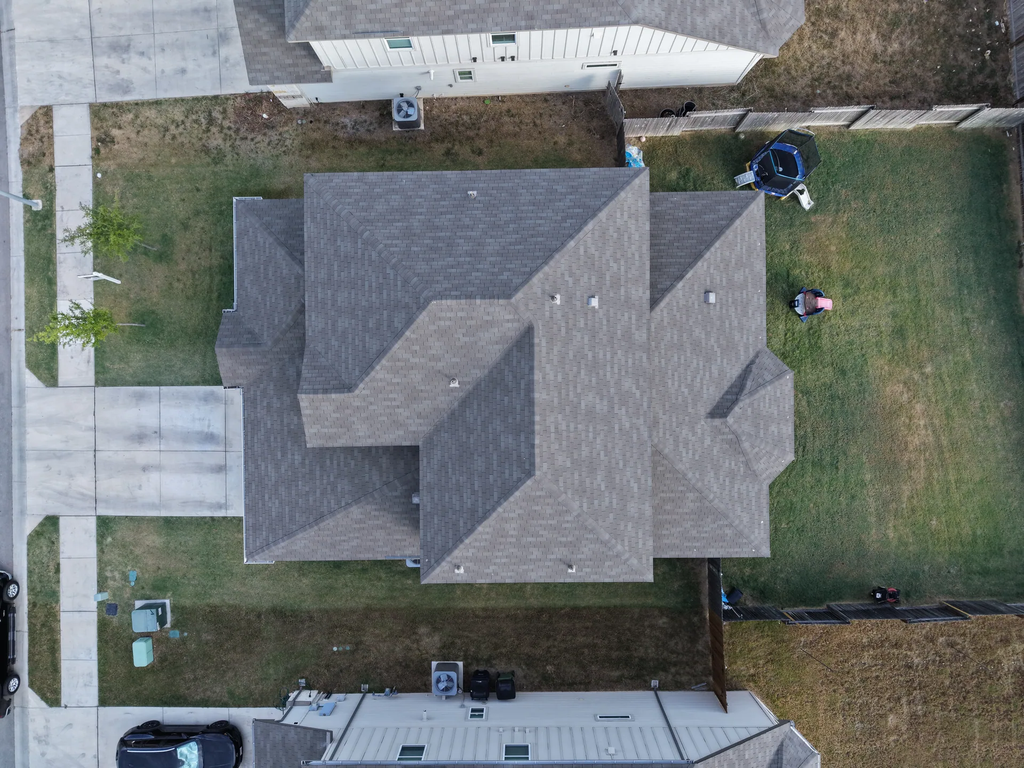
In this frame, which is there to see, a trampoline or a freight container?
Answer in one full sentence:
Visible in the photo is a trampoline.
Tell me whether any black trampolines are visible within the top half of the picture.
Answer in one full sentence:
Yes, within the top half of the picture there is a black trampoline.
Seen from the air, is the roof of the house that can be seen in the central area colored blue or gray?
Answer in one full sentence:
The roof of the house that can be seen in the central area is gray.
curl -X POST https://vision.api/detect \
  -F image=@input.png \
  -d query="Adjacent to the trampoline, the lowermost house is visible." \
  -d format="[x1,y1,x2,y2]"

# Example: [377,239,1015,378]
[213,167,795,585]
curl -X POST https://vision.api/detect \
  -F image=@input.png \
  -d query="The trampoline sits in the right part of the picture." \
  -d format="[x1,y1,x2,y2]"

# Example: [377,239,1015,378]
[731,125,822,220]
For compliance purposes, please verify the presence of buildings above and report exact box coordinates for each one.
[233,0,802,106]
[249,682,825,768]
[213,167,795,585]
